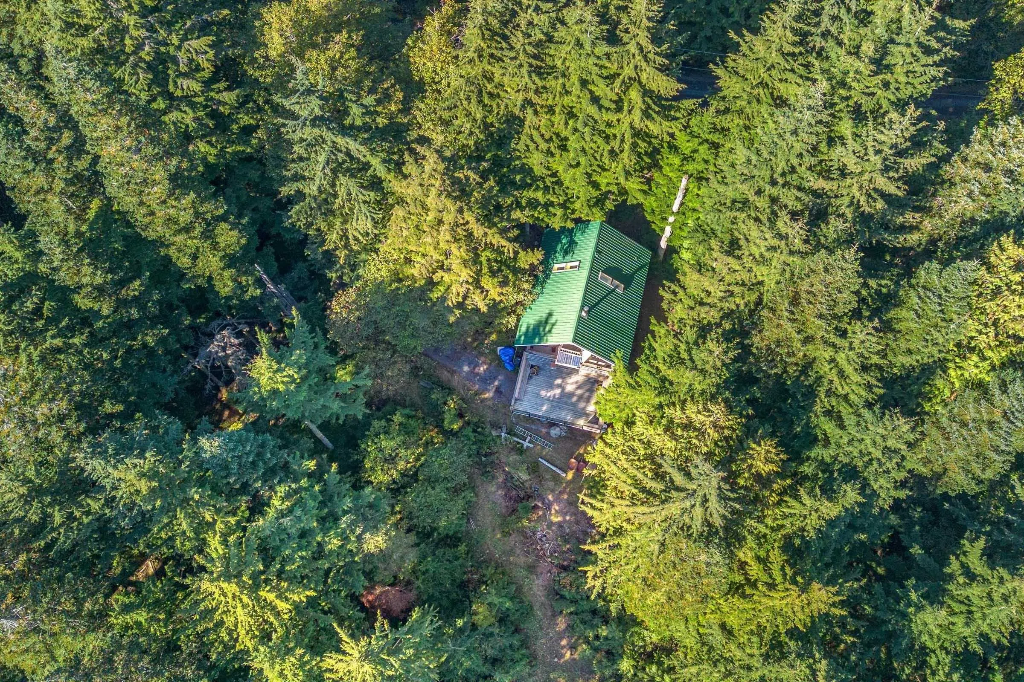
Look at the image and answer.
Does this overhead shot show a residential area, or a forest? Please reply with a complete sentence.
What you see here is a forest.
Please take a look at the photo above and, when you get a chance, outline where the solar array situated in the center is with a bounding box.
[555,345,583,369]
